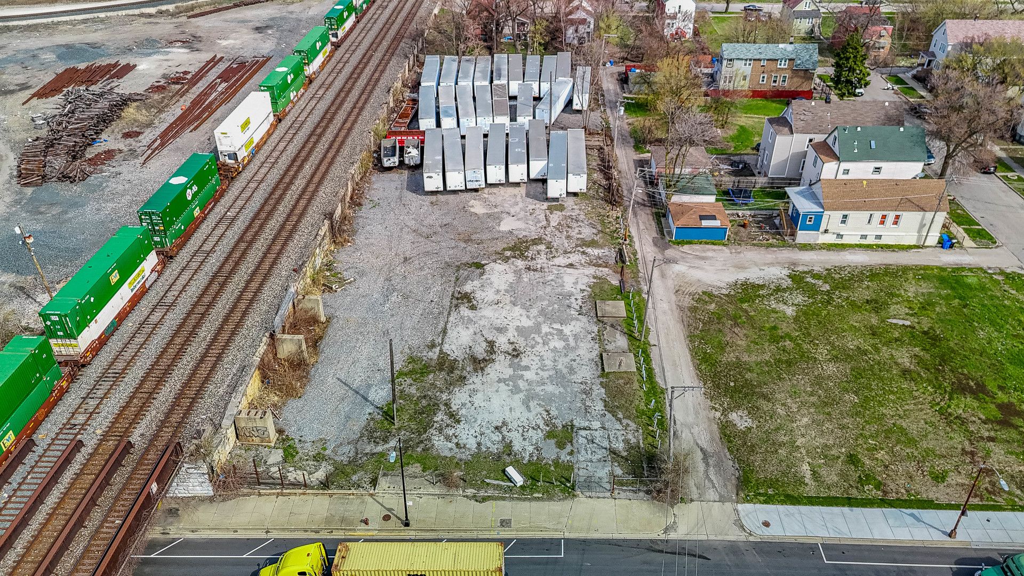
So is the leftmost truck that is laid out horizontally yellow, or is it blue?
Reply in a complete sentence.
The leftmost truck that is laid out horizontally is yellow.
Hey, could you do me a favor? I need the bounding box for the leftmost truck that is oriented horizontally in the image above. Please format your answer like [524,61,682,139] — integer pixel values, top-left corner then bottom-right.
[262,544,335,576]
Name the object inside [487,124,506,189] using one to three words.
trailer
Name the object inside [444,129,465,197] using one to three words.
trailer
